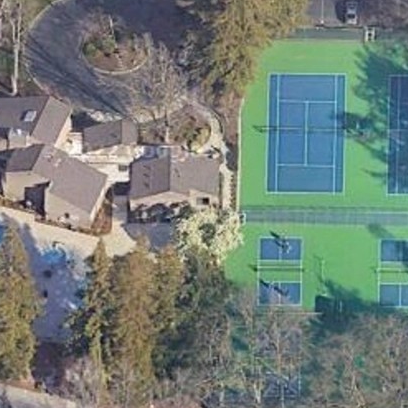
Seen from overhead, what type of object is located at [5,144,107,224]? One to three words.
house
